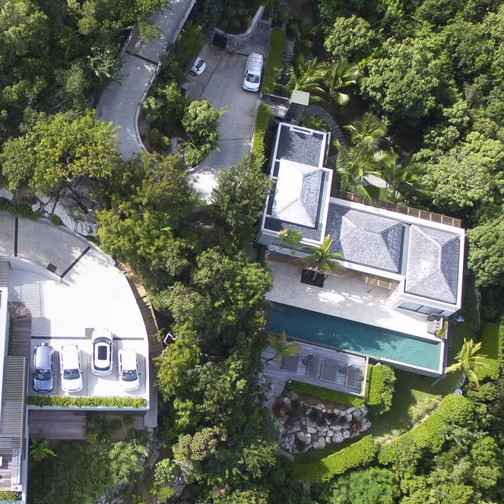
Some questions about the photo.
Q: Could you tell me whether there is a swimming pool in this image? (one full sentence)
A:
Yes, I can see a swimming pool in this picture.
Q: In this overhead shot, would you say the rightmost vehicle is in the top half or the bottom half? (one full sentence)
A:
It is in the top half that the rightmost vehicle appears.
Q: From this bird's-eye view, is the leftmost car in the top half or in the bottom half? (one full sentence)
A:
The leftmost car is in the bottom half of the image.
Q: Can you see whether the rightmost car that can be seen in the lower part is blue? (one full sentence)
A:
No, the rightmost car that can be seen in the lower part is actually white.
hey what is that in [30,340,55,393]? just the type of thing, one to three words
car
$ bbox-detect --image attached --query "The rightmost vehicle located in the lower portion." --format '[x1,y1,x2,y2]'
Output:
[117,349,142,393]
